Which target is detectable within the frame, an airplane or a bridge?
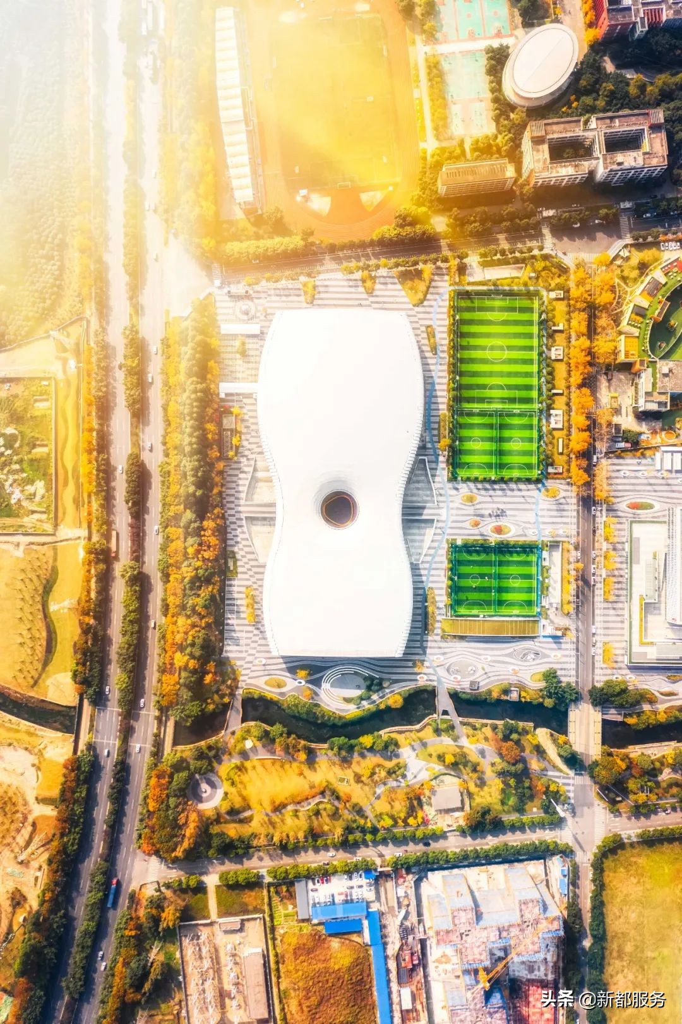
bridge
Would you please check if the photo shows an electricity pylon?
Yes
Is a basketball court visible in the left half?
No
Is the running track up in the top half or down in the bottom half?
top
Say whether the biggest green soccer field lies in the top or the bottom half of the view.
top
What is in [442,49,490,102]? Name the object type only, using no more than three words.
basketball court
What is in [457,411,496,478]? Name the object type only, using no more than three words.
soccer field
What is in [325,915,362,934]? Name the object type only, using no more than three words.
shed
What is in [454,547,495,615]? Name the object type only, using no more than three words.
soccer field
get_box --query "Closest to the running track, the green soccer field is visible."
[457,293,540,409]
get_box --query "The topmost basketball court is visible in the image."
[436,0,515,46]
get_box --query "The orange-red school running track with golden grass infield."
[255,0,428,238]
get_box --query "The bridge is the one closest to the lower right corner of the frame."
[568,700,603,758]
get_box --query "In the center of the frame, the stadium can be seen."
[257,306,424,656]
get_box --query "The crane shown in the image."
[471,906,562,994]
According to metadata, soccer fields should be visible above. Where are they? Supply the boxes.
[457,411,496,478]
[496,547,539,615]
[457,293,540,409]
[454,547,495,615]
[498,411,540,478]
